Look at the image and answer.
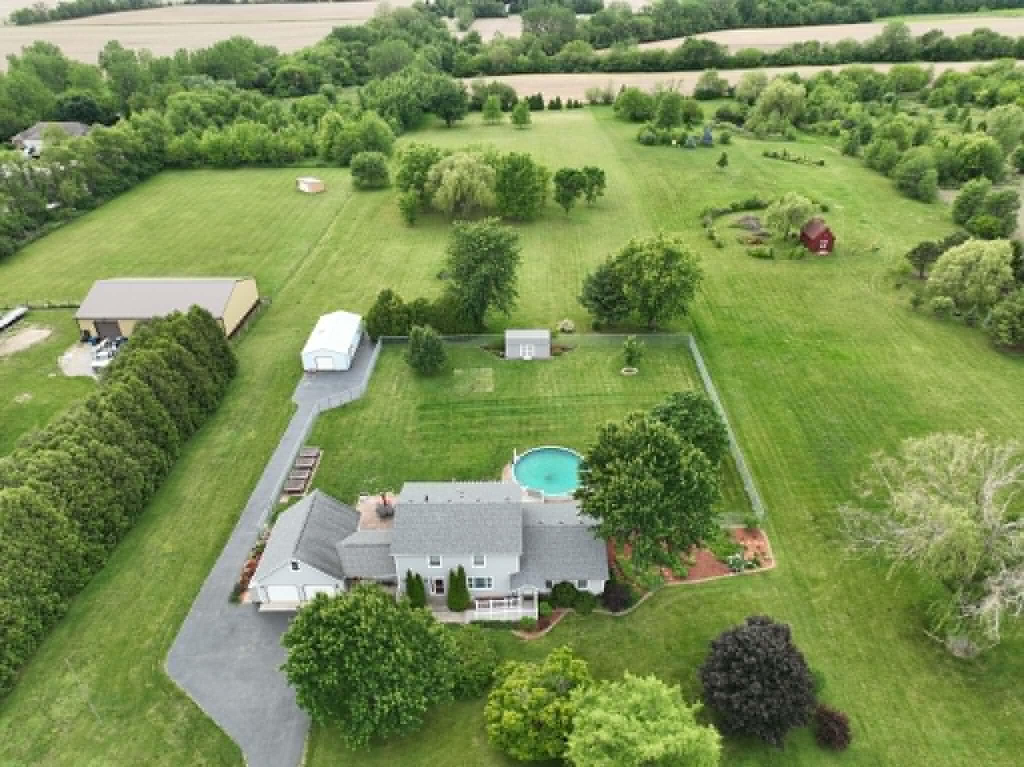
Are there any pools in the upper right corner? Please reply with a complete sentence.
No, no pool is visible in the upper right corner.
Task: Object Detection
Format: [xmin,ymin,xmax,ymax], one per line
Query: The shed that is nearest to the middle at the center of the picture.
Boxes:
[505,328,552,362]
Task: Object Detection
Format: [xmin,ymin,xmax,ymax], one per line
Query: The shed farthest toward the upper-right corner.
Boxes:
[801,219,838,254]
